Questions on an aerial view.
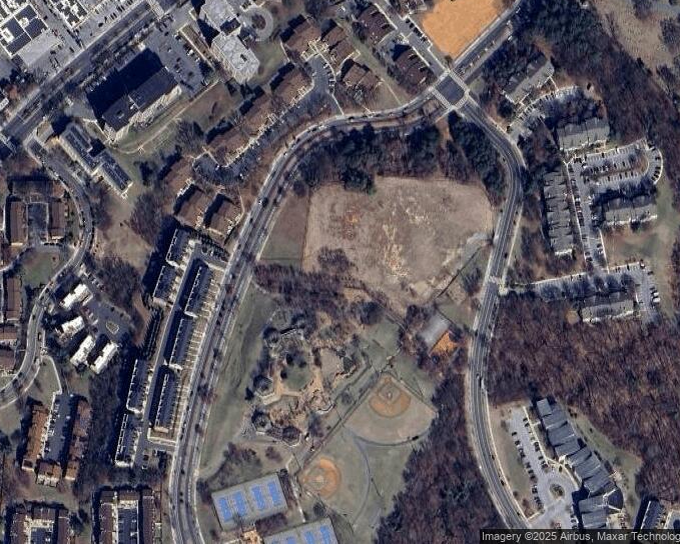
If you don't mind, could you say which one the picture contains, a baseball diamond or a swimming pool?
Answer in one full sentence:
Looking from above, you can make out a baseball diamond.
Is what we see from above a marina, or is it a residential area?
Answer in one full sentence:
What you see here is a residential area.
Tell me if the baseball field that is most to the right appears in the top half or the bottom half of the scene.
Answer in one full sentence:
Seen from above, the baseball field that is most to the right lies in the bottom half of the view.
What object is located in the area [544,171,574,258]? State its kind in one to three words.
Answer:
building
